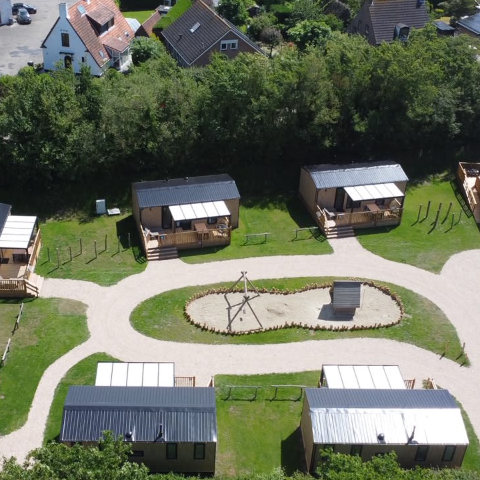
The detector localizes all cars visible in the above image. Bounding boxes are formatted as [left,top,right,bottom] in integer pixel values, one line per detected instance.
[18,5,34,23]
[10,0,45,14]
